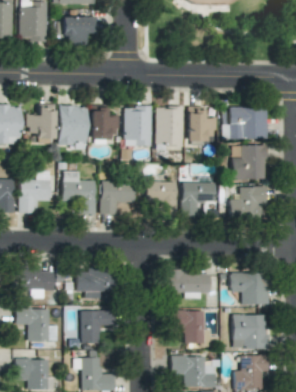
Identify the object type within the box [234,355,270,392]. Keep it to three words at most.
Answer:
house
